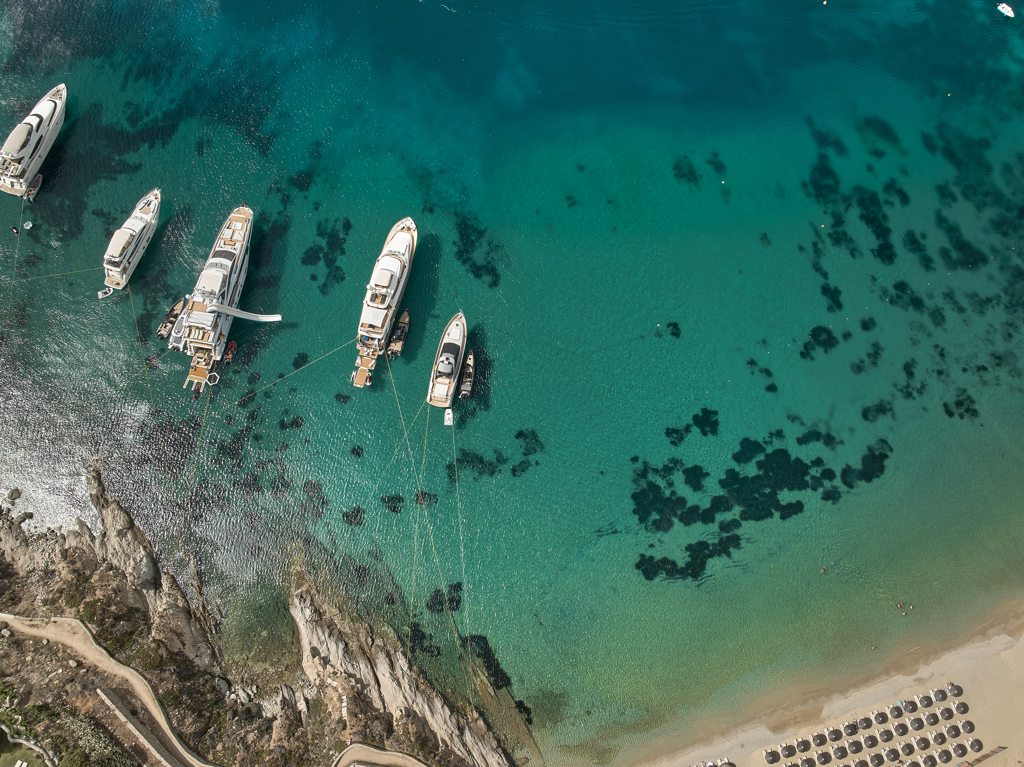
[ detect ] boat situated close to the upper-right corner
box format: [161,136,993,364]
[997,2,1015,20]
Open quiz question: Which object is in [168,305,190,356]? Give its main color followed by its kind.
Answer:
white boat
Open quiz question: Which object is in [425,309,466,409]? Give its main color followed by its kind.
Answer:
white boat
